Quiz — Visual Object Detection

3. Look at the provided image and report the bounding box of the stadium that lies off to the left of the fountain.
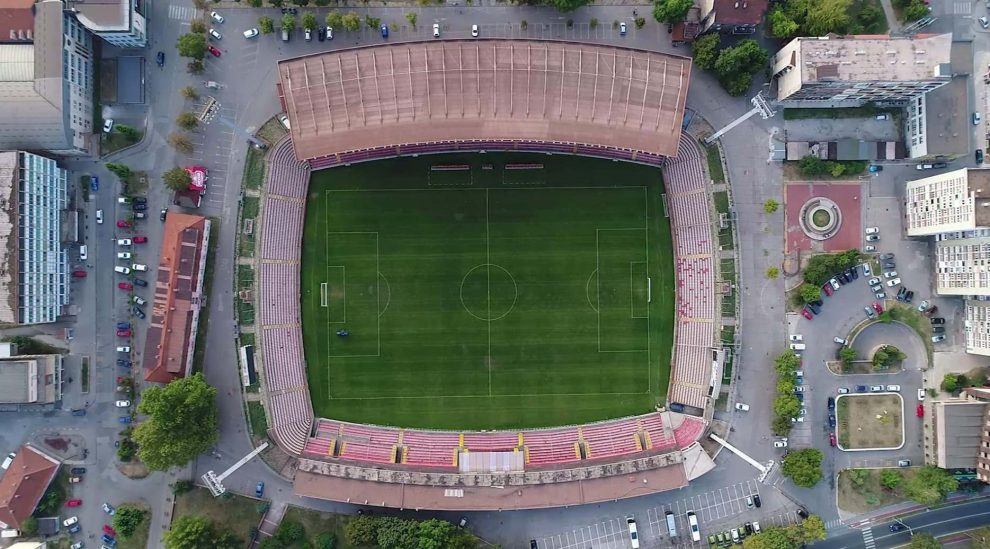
[259,39,716,512]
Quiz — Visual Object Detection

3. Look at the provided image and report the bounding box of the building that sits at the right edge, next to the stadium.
[771,35,954,106]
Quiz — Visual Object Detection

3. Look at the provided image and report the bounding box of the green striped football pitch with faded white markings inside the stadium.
[300,151,676,432]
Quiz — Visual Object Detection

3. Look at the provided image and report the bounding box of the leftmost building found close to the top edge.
[0,0,101,161]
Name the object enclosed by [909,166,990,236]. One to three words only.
building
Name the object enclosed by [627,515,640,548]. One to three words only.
vehicle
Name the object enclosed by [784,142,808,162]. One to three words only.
shed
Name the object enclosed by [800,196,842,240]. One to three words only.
fountain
